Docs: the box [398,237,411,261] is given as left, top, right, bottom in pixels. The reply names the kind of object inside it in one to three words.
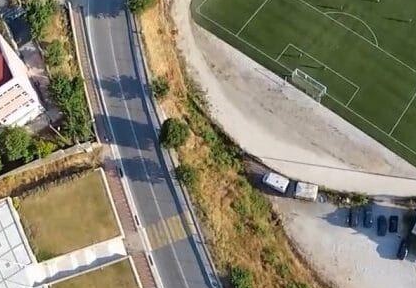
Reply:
vehicle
